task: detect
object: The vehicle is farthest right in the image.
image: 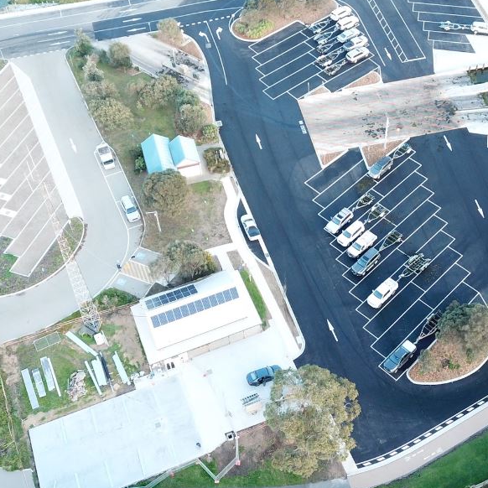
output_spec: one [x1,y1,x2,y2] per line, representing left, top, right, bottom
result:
[469,22,488,36]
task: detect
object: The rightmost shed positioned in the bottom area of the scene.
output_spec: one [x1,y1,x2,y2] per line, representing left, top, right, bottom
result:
[131,269,262,370]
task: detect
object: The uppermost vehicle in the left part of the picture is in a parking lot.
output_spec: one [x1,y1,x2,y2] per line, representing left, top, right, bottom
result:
[98,144,116,170]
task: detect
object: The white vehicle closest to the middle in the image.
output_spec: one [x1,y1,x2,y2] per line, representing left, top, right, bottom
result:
[241,216,260,242]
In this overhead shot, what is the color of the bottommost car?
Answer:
blue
